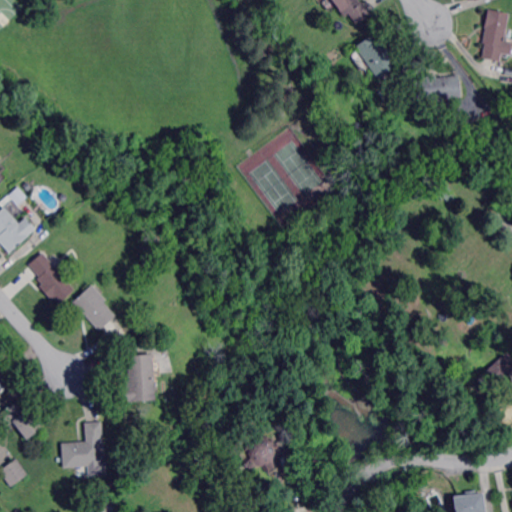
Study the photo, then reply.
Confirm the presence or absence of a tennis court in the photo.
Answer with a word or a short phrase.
Yes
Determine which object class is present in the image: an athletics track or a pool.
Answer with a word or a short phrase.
pool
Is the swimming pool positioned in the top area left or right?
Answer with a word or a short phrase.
left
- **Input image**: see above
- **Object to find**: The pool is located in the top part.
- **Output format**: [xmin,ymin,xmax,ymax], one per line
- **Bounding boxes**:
[31,185,60,215]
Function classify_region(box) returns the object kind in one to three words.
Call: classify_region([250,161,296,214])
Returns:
tennis court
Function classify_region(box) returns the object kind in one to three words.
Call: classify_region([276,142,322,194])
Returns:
tennis court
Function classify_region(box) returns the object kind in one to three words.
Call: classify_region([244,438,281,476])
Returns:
house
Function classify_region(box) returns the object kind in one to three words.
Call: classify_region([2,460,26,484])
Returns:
building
